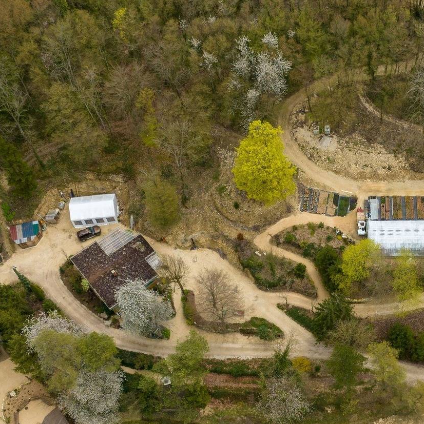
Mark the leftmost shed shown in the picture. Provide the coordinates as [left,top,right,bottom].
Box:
[9,221,43,250]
